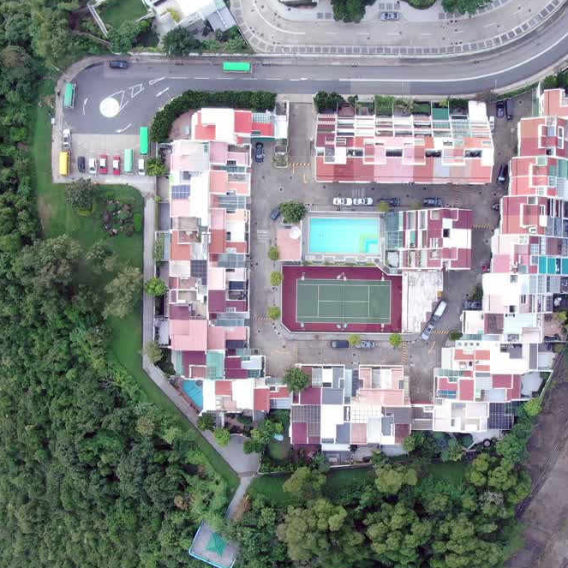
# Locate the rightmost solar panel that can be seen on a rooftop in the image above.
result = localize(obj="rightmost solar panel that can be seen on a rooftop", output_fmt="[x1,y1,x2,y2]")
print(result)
[489,403,512,429]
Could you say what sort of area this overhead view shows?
residential area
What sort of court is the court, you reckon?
tennis court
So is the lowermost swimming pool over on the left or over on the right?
left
